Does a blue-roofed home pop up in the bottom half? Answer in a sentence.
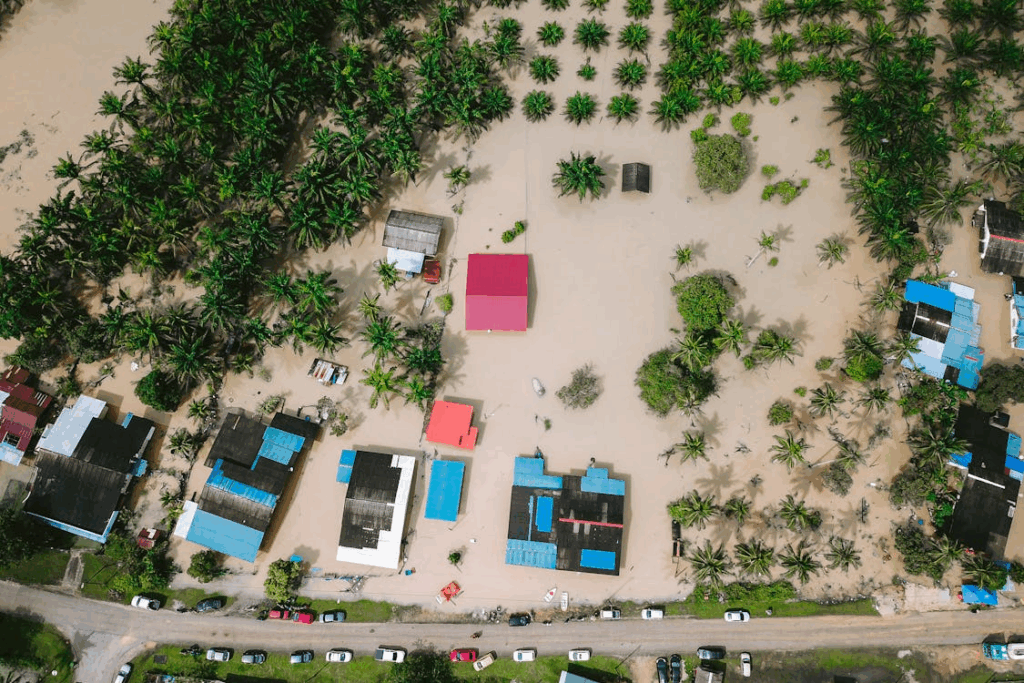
Yes, you'll find a blue-roofed home in the bottom half.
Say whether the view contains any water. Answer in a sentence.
Yes, water can be seen from above here.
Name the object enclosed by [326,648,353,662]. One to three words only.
car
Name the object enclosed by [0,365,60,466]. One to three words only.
house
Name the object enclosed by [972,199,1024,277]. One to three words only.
house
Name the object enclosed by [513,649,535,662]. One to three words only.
vehicle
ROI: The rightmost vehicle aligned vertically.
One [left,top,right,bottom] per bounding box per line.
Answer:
[738,649,752,677]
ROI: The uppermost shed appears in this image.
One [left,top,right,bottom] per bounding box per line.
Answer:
[622,162,649,193]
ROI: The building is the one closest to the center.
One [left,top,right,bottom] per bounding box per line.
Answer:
[466,254,528,333]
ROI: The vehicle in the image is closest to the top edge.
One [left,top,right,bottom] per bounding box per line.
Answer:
[425,256,439,286]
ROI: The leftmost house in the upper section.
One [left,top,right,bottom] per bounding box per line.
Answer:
[382,210,443,273]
